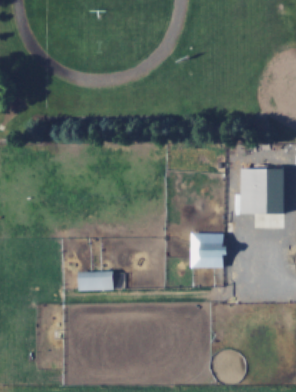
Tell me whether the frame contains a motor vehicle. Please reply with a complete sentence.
No, I can see no motor vehicle in this picture.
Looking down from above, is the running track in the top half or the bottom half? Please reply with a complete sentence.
Seen from above, the running track lies in the top half of the view.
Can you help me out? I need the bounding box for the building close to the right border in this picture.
[236,168,284,214]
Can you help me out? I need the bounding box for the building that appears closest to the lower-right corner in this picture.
[190,233,226,268]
